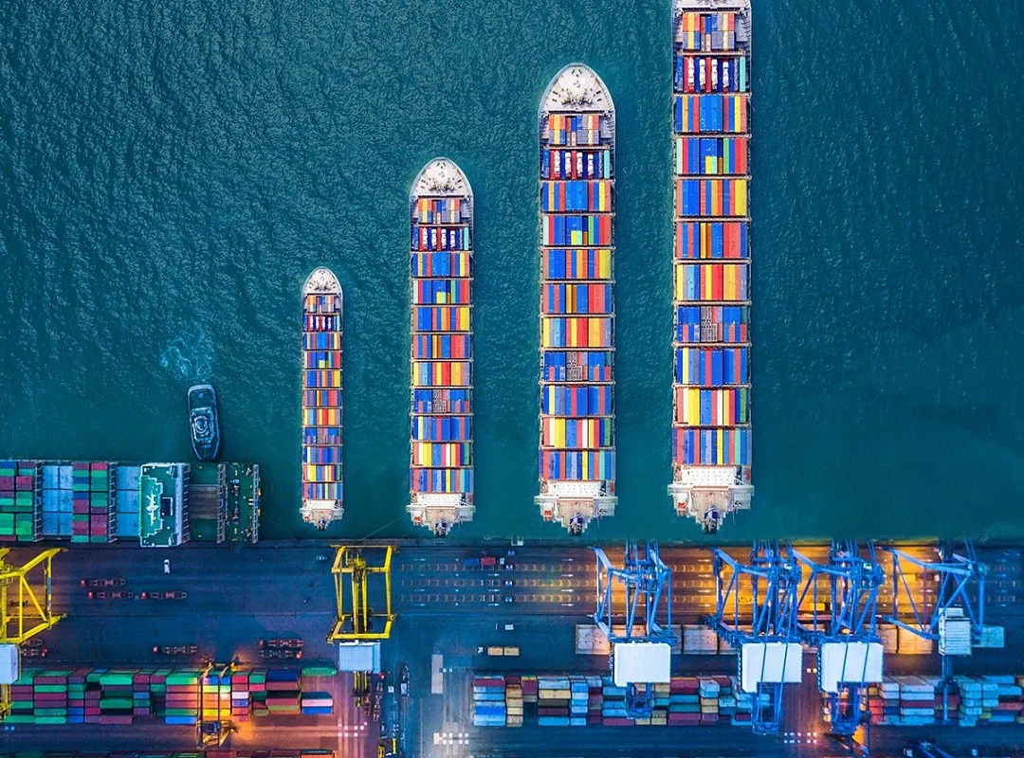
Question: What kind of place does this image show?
port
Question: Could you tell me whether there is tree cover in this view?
No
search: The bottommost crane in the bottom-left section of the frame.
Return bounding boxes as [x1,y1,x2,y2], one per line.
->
[198,665,249,756]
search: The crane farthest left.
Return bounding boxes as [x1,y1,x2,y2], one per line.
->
[0,545,70,732]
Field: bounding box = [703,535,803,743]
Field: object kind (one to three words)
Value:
container crane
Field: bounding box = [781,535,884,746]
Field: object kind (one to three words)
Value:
container crane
